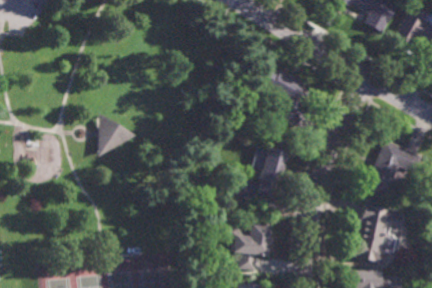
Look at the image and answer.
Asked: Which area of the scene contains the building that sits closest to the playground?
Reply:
left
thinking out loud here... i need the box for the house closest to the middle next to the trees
[251,150,290,192]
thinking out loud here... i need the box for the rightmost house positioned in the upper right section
[390,10,428,45]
